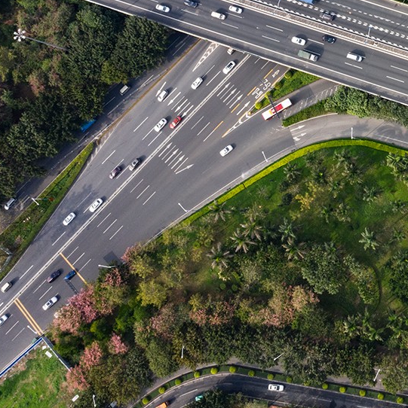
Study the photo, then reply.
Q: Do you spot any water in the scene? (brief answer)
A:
No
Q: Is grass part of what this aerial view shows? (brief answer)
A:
Yes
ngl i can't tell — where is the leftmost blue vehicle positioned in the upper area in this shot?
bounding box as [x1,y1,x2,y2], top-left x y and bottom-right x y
[79,118,96,134]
